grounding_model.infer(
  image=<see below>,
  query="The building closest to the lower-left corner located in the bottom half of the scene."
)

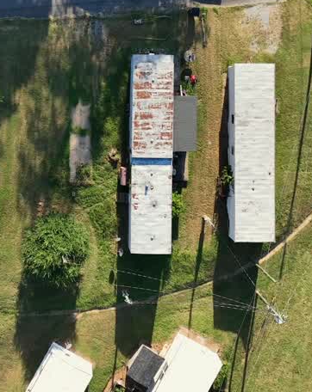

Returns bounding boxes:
[24,333,95,392]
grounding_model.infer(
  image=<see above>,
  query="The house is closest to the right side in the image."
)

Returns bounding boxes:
[228,63,275,243]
